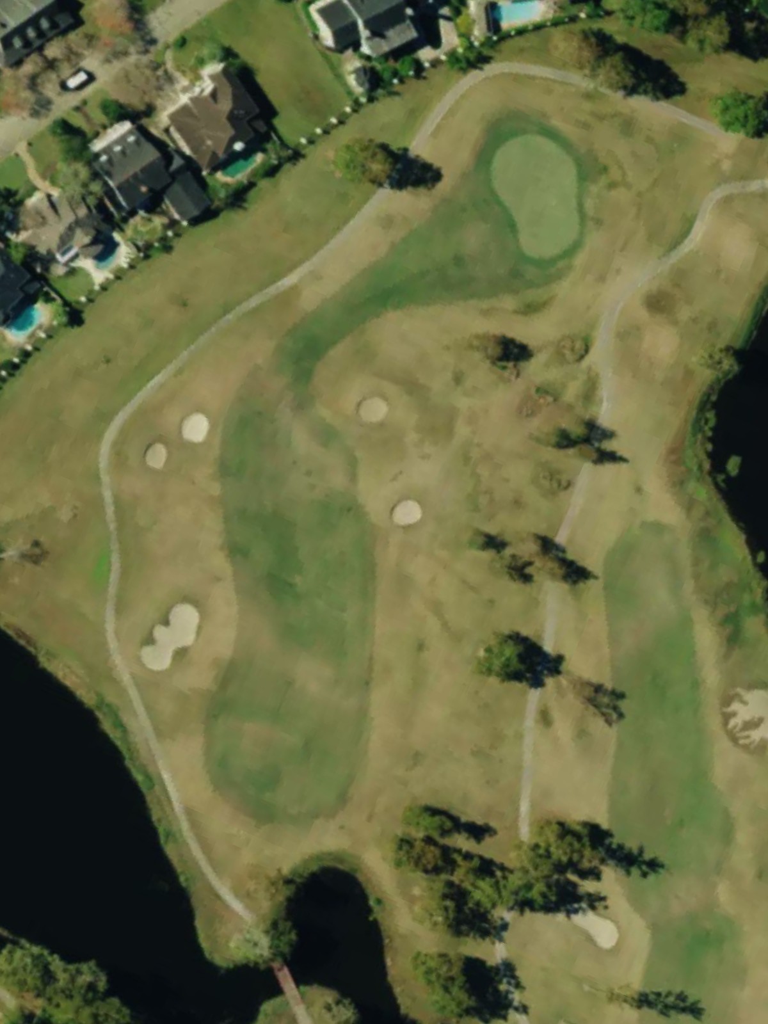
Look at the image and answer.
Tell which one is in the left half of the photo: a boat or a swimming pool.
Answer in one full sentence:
Visible in the left half of the photo is a swimming pool.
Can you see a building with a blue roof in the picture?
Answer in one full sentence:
No, I can see no building with a blue roof in this picture.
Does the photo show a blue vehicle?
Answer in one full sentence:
No, this view has no blue vehicle in it.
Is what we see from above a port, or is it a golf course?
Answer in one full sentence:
The picture captures a golf course.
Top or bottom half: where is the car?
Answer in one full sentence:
The top half of the photo is where the car is.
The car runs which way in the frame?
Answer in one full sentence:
I'd say the car is aligned diagonally in the picture.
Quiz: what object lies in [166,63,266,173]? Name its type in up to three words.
house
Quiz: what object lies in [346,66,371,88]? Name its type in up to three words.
building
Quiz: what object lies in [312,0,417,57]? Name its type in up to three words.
house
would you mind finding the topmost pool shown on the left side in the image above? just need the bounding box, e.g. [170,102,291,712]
[218,151,261,180]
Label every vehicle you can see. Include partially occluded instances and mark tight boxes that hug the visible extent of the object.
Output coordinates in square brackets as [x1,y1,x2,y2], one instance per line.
[61,67,90,91]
